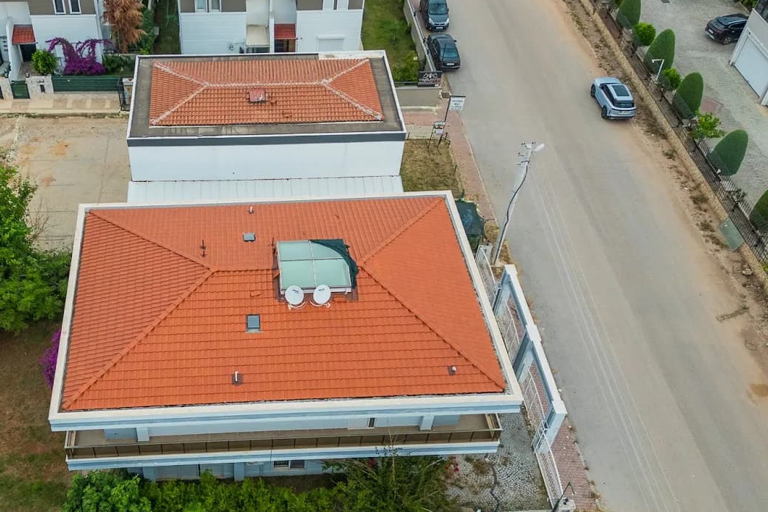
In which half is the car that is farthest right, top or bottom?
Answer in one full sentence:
The car that is farthest right sits in the top half of the picture.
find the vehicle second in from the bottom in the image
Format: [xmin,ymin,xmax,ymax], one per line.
[437,32,468,66]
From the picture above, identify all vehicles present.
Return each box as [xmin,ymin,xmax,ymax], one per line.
[437,32,468,66]
[424,0,457,30]
[583,73,637,119]
[700,7,753,39]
